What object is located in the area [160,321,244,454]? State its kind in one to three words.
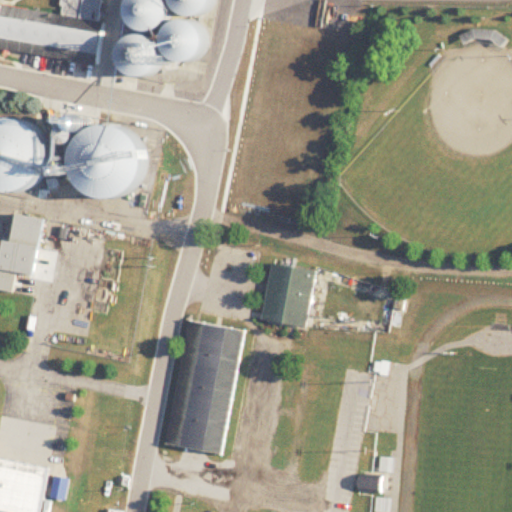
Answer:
building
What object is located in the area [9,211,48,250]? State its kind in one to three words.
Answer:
building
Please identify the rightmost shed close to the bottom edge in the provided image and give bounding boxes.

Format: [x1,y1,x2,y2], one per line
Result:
[355,474,382,494]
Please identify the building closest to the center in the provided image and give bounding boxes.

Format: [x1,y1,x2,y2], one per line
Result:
[262,264,316,328]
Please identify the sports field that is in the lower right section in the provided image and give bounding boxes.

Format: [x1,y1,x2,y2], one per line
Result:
[406,304,512,512]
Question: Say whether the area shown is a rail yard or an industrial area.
industrial area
